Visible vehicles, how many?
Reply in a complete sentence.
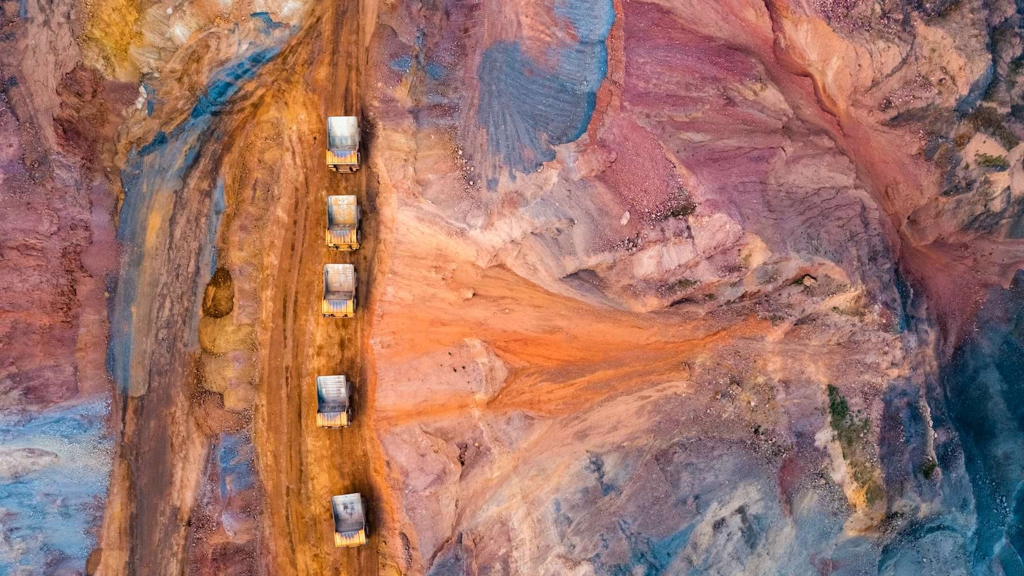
Looking from above, you can make out 5 vehicles.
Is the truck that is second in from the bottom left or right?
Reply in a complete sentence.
The truck that is second in from the bottom appears in the left half of the scene.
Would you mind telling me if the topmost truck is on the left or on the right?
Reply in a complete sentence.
The topmost truck appears in the left half of the scene.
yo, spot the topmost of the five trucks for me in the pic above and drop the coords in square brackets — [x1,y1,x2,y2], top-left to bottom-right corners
[324,116,364,175]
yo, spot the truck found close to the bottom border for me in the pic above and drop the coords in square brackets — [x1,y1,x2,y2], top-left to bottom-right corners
[332,491,373,549]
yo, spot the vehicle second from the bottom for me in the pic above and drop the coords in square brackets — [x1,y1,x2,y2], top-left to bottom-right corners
[316,375,355,431]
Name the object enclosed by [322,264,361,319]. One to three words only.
truck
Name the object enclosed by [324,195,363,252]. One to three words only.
truck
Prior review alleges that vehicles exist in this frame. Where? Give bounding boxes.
[324,195,363,252]
[316,375,355,431]
[332,491,373,549]
[324,116,364,175]
[322,264,361,319]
